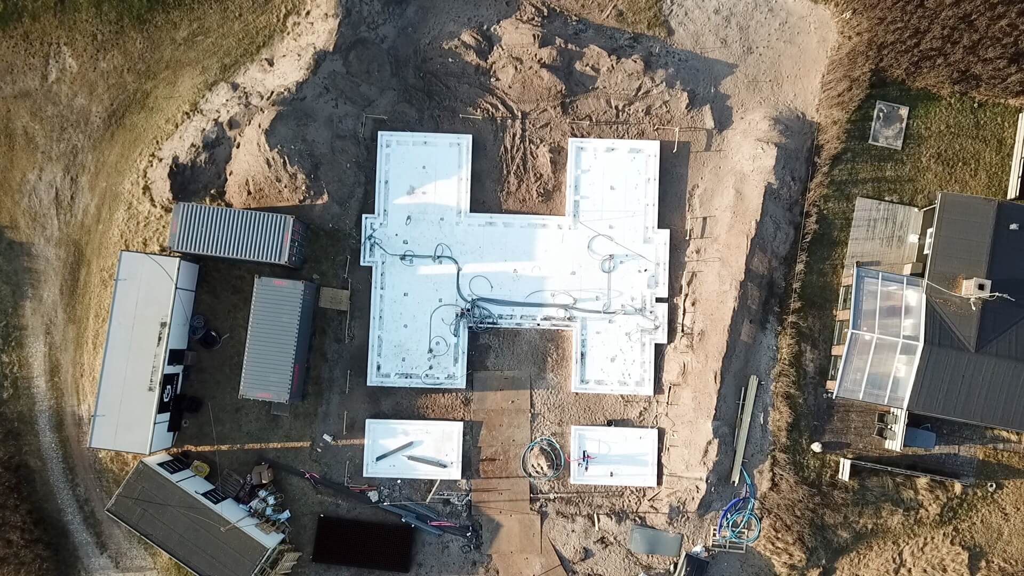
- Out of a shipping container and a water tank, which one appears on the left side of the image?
shipping container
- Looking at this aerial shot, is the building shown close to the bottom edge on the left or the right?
left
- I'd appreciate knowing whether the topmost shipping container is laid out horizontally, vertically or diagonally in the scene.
horizontally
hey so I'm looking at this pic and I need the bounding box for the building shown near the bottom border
[106,451,282,576]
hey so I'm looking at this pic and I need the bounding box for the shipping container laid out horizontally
[171,201,307,267]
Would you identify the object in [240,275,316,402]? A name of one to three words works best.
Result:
shipping container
